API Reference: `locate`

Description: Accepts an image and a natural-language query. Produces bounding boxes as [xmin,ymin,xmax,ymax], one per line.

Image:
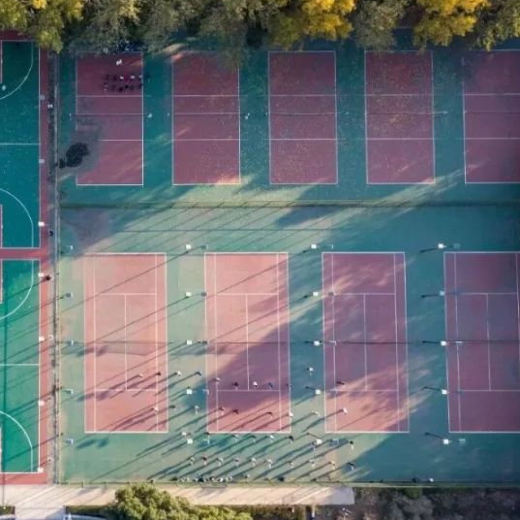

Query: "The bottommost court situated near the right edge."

[445,251,520,432]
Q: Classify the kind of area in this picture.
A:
sports ground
